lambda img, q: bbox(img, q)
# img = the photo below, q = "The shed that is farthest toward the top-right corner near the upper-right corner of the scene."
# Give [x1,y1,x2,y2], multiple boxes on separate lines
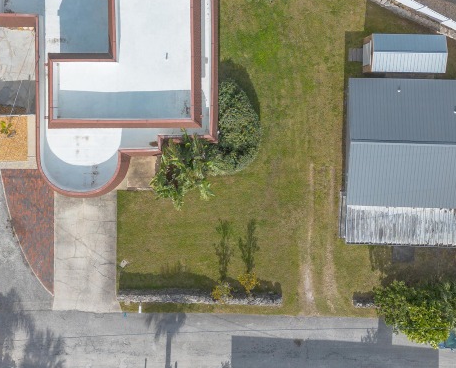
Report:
[364,34,448,74]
